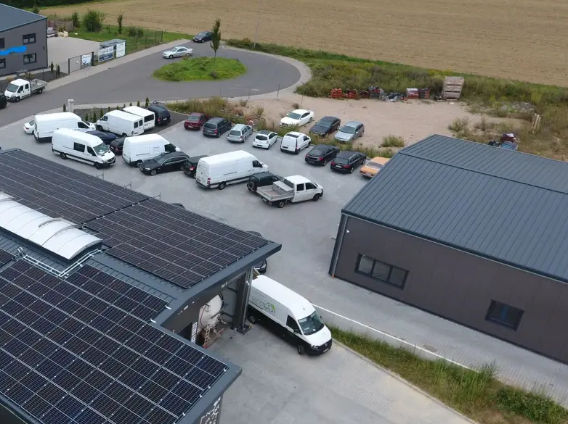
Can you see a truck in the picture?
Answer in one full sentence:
Yes, there is a truck in the image.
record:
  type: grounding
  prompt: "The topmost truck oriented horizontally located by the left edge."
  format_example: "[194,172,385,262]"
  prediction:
[3,79,48,101]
